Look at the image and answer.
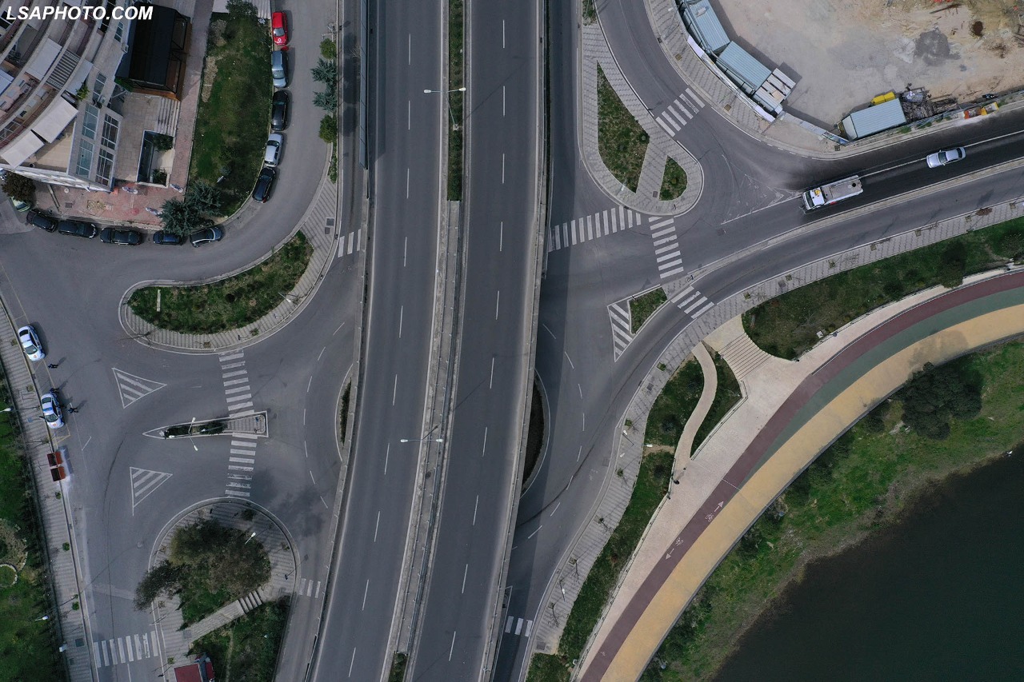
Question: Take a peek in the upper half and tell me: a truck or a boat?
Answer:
truck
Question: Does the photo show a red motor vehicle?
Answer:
Yes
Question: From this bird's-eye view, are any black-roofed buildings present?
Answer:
Yes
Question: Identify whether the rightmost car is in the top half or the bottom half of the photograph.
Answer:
top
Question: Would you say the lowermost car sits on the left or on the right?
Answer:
left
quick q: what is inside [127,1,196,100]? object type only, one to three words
building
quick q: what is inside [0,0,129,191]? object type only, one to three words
building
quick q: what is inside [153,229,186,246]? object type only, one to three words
car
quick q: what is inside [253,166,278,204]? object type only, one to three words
car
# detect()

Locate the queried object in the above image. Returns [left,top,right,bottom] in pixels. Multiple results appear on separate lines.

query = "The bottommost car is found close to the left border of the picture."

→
[40,389,67,429]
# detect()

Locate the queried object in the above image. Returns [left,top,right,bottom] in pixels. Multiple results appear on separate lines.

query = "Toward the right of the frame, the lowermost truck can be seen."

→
[797,174,867,212]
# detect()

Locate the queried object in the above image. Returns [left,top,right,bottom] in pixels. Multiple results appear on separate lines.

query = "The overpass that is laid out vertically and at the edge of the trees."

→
[305,0,547,682]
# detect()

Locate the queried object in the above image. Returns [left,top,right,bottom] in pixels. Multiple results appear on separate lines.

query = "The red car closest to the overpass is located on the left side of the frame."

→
[270,11,289,47]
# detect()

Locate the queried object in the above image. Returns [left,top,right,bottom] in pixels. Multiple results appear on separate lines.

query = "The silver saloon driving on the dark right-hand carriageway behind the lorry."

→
[924,144,967,171]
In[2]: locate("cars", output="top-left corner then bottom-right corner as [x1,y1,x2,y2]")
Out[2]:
[924,144,967,171]
[100,227,145,246]
[57,219,100,239]
[270,50,290,89]
[153,229,186,246]
[264,133,284,168]
[20,324,46,363]
[270,91,290,132]
[23,207,59,233]
[5,194,35,217]
[40,389,67,429]
[270,11,289,47]
[253,166,278,204]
